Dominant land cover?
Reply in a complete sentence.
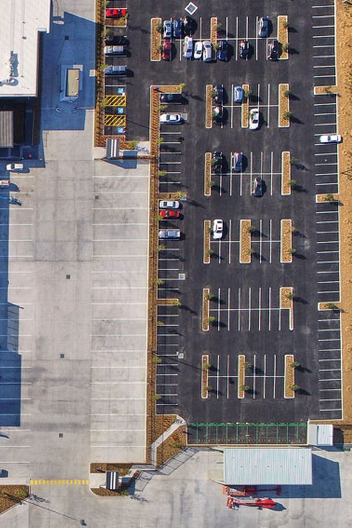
What you mostly see from above here is paved ground.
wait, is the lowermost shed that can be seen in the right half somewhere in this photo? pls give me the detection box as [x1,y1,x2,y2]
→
[210,446,313,485]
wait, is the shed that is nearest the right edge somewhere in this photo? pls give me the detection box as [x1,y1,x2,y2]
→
[311,425,333,445]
